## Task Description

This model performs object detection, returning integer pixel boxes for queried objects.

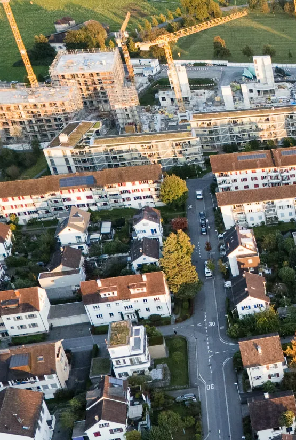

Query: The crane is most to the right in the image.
[134,9,248,116]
